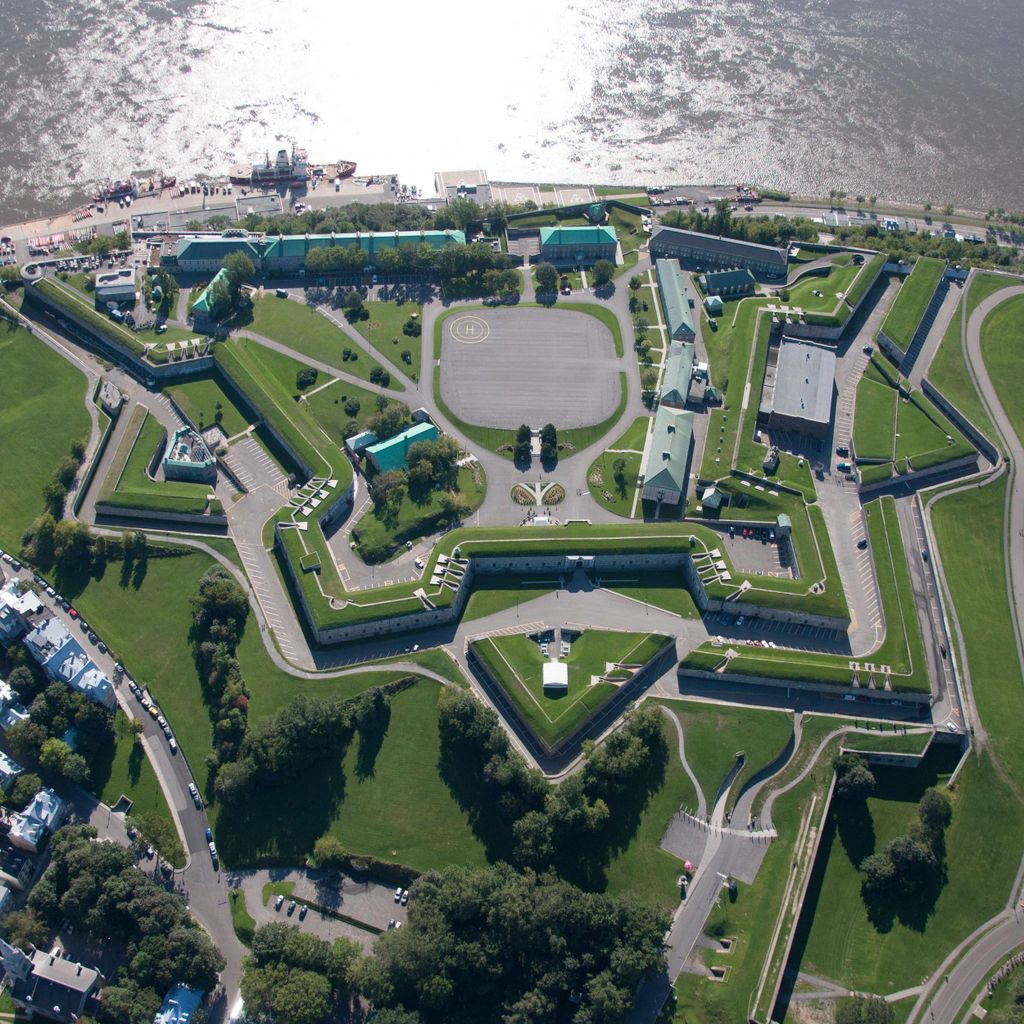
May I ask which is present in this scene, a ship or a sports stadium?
ship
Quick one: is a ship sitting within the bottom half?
No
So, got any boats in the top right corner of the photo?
No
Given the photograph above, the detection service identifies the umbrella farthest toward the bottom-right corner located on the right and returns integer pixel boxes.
[682,857,696,870]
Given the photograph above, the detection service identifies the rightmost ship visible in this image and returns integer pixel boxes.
[225,129,356,184]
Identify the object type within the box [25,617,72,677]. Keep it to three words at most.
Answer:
house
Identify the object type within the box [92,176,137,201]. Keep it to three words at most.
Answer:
boat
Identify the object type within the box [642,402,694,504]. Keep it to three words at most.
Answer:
building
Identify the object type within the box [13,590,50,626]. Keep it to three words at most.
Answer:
house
